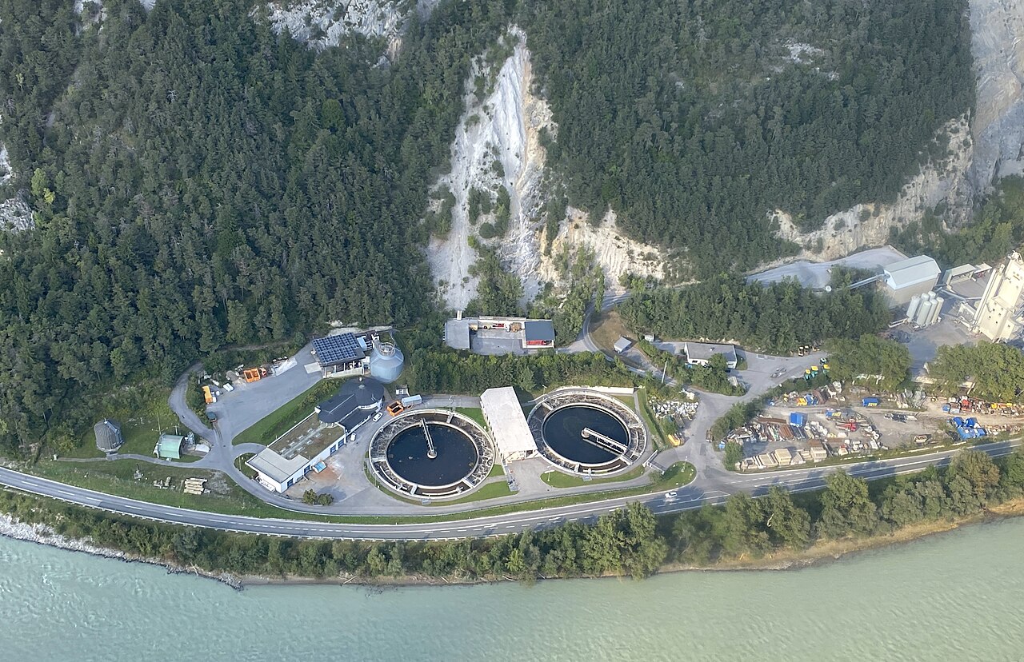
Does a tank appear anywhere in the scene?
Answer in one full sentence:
Yes, the picture does show a tank.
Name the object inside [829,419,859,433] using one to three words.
vehicle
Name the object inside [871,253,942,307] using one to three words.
building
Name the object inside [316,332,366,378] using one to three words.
shed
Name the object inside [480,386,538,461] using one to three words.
building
